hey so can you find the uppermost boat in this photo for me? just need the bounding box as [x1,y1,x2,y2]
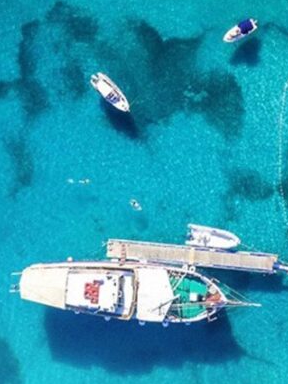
[223,14,259,41]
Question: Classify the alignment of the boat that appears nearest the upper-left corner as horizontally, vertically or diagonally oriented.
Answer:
diagonally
